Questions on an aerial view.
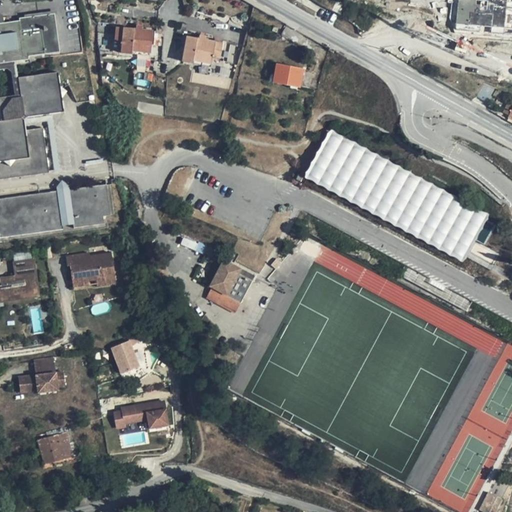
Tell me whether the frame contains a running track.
Yes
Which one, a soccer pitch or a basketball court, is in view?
soccer pitch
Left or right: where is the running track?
right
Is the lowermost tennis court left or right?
right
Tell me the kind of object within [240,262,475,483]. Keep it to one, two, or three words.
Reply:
soccer field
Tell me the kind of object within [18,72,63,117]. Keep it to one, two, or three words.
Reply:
building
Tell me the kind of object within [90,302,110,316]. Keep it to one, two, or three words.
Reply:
swimming pool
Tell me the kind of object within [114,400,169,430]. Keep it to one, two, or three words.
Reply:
house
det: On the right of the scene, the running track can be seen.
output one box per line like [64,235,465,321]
[314,247,504,358]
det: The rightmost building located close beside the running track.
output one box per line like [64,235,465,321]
[306,130,489,262]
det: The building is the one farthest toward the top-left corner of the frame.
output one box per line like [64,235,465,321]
[0,14,60,62]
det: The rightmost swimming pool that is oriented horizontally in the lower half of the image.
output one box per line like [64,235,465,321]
[120,432,149,448]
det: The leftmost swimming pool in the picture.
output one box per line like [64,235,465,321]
[30,306,44,334]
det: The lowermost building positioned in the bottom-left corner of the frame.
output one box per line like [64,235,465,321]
[38,430,76,468]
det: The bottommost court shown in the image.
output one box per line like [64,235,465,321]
[442,435,492,499]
